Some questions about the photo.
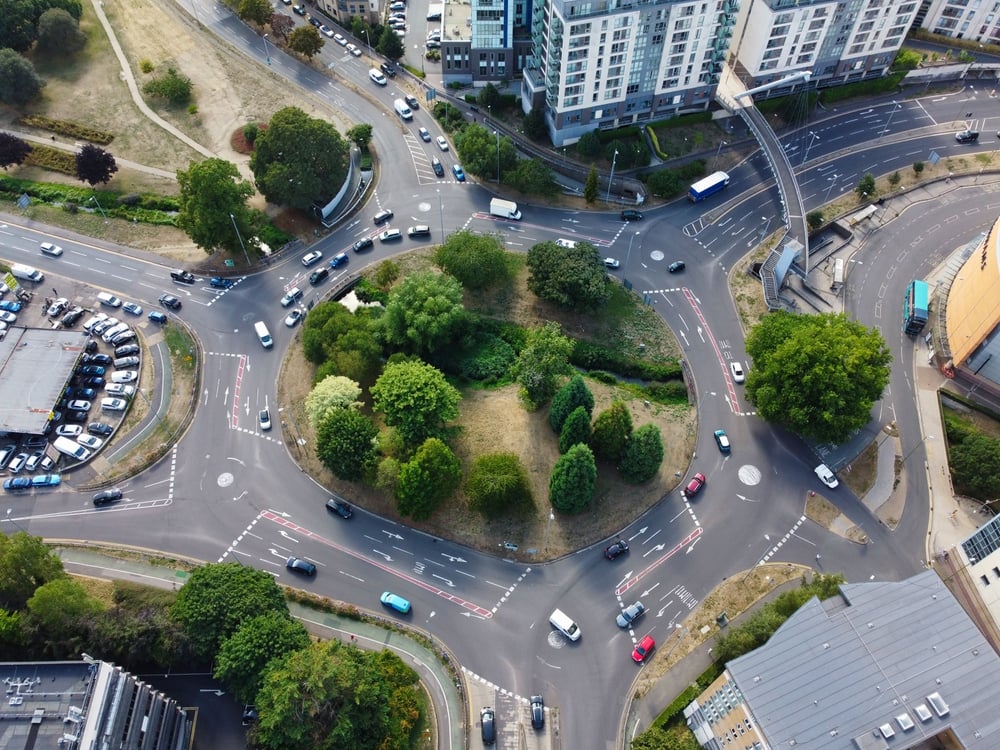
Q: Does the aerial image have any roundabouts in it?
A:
Yes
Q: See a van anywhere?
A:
Yes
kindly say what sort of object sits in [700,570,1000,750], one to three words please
building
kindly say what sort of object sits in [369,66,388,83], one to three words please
vehicle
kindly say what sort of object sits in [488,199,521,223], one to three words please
truck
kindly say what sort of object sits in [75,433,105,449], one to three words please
car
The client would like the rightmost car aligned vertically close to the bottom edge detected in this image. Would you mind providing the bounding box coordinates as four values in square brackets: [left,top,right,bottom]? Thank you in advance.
[528,693,546,733]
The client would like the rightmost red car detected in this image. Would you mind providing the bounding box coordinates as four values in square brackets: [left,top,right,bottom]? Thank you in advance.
[685,474,707,498]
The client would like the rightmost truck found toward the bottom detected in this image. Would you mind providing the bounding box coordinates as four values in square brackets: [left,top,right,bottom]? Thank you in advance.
[812,459,843,491]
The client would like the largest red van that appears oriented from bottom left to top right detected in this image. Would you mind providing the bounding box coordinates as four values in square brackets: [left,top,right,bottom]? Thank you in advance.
[628,631,659,664]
